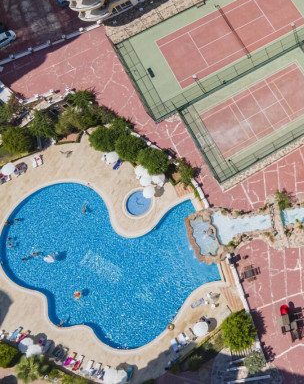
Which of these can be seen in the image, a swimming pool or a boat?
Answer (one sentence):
This aerial view contains a swimming pool.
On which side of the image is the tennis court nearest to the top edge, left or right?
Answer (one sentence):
The tennis court nearest to the top edge appears in the right half of the scene.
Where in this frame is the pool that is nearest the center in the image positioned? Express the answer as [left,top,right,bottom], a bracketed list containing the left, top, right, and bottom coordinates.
[122,188,155,220]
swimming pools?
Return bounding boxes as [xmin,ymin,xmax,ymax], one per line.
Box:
[122,188,155,220]
[0,180,226,352]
